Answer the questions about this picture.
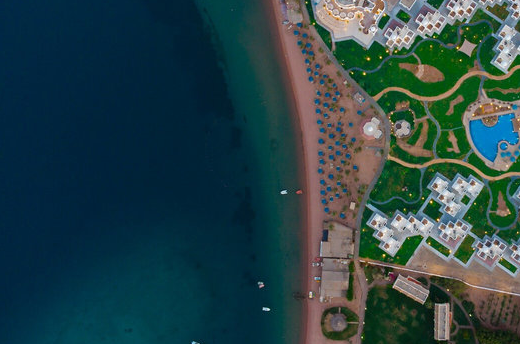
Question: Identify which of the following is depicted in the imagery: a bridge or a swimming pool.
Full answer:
The one in the frame is a swimming pool.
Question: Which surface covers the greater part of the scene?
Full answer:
The bulk of the photo consists of water.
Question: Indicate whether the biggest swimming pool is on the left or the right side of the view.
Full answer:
The biggest swimming pool sits on the right side.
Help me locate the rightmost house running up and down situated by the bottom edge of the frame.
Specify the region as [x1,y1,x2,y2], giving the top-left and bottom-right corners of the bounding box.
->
[434,302,451,340]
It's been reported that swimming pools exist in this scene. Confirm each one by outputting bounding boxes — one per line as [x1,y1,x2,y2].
[468,112,519,163]
[497,140,509,152]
